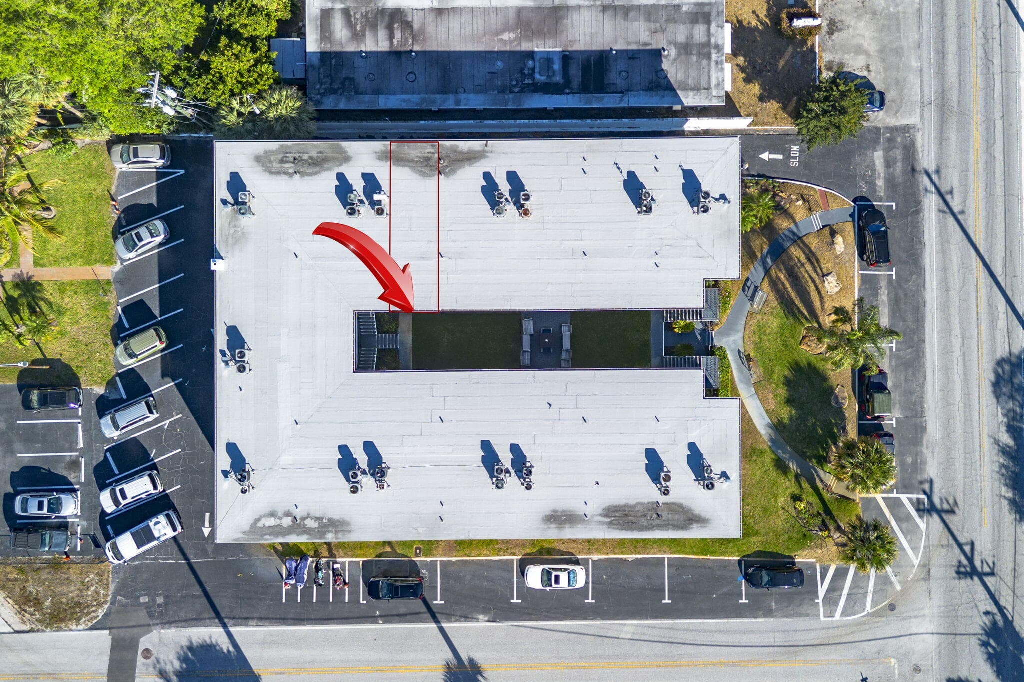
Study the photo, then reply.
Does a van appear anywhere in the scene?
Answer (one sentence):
Yes, I can see a van in this picture.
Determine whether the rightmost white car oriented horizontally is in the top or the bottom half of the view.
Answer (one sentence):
You can find the rightmost white car oriented horizontally in the bottom half.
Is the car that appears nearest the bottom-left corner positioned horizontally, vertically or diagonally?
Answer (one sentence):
In this picture, the car that appears nearest the bottom-left corner lies horizontally.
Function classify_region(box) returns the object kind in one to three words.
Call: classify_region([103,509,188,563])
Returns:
van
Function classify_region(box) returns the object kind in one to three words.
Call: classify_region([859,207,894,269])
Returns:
car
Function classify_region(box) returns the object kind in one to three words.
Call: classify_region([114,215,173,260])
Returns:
car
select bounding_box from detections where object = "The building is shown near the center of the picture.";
[214,137,742,543]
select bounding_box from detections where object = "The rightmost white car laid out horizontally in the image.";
[524,562,587,591]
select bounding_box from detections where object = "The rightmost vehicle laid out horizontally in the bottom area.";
[744,562,805,591]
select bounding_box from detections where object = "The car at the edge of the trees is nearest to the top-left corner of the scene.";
[110,140,174,170]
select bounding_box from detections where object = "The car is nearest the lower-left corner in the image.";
[4,526,76,555]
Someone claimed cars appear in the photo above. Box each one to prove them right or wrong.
[871,431,901,491]
[863,370,895,423]
[114,215,173,260]
[21,384,86,413]
[744,562,805,591]
[110,140,174,170]
[866,89,888,116]
[99,470,168,512]
[13,490,82,519]
[115,322,173,364]
[524,562,587,591]
[4,526,76,555]
[368,574,425,603]
[99,394,164,439]
[859,207,894,269]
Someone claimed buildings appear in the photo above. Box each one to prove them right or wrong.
[214,137,742,543]
[306,0,731,114]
